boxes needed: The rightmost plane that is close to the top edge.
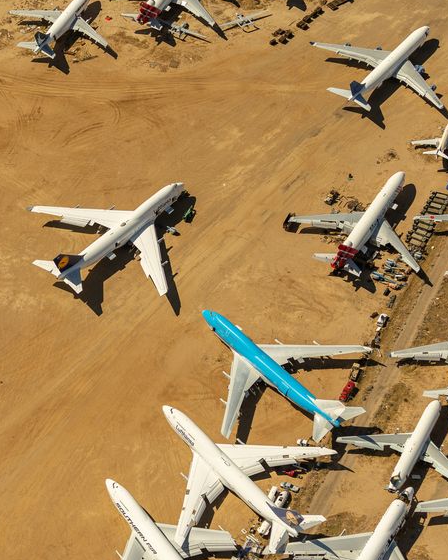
[305,26,447,111]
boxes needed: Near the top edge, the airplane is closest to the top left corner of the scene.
[8,0,106,58]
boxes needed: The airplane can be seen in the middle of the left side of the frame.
[22,184,185,297]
